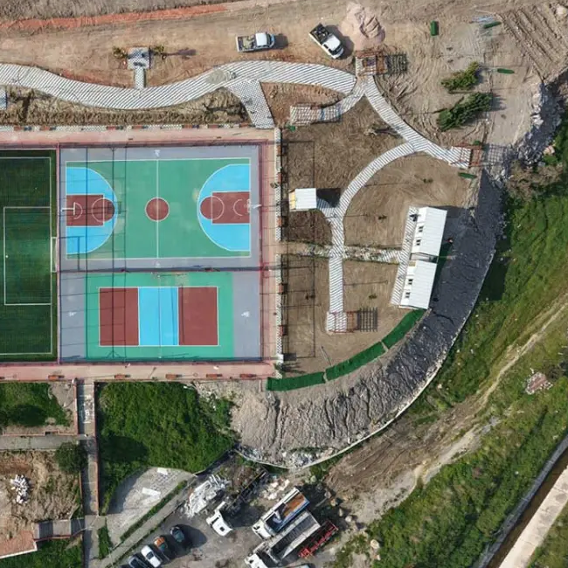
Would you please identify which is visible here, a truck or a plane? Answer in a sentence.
Visible in the photo is a truck.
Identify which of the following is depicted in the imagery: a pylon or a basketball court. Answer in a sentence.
Looking from above, you can make out a basketball court.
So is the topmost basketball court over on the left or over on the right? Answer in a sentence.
You can find the topmost basketball court on the left side of the picture.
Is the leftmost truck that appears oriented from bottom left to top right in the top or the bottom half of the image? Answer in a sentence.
The bottom half of the photo is where the leftmost truck that appears oriented from bottom left to top right is.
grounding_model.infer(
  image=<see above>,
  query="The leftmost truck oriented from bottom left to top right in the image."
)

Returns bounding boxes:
[209,466,271,537]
